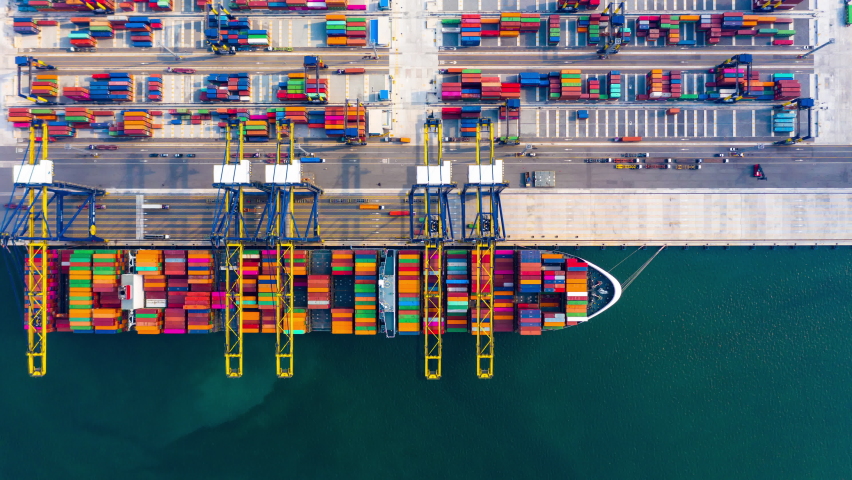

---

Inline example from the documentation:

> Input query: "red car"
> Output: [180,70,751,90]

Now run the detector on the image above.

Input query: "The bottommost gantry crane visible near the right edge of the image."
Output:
[772,97,815,146]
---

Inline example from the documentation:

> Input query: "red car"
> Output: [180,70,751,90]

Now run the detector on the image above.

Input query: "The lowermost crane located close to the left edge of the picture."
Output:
[0,113,107,380]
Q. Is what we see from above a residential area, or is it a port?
port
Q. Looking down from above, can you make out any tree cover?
No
